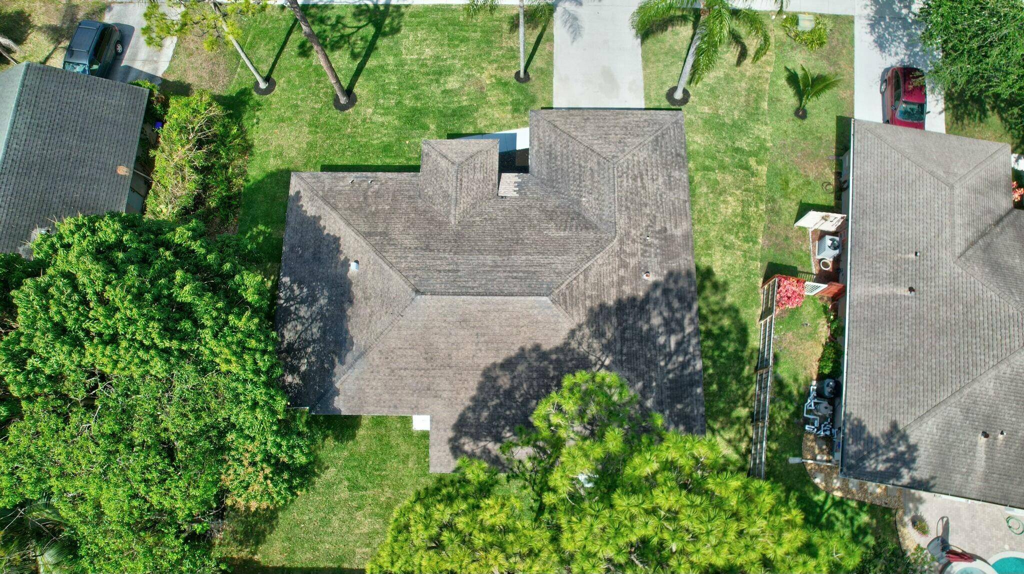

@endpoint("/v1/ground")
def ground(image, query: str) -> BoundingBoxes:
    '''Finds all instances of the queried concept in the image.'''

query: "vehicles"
[65,15,121,78]
[880,64,931,129]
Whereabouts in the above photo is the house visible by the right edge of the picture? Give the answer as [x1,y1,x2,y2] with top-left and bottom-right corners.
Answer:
[825,118,1024,512]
